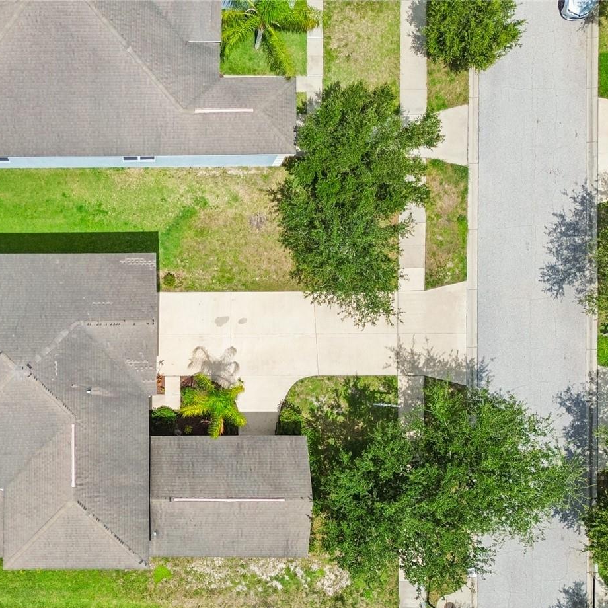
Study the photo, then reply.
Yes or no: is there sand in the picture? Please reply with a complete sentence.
No, there's no sand in this view.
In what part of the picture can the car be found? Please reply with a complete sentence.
The car is in the top right part of the image.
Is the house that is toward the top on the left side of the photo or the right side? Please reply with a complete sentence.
The house that is toward the top is on the left side of the image.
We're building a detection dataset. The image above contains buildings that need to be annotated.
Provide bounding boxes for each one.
[0,0,296,168]
[0,253,315,571]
